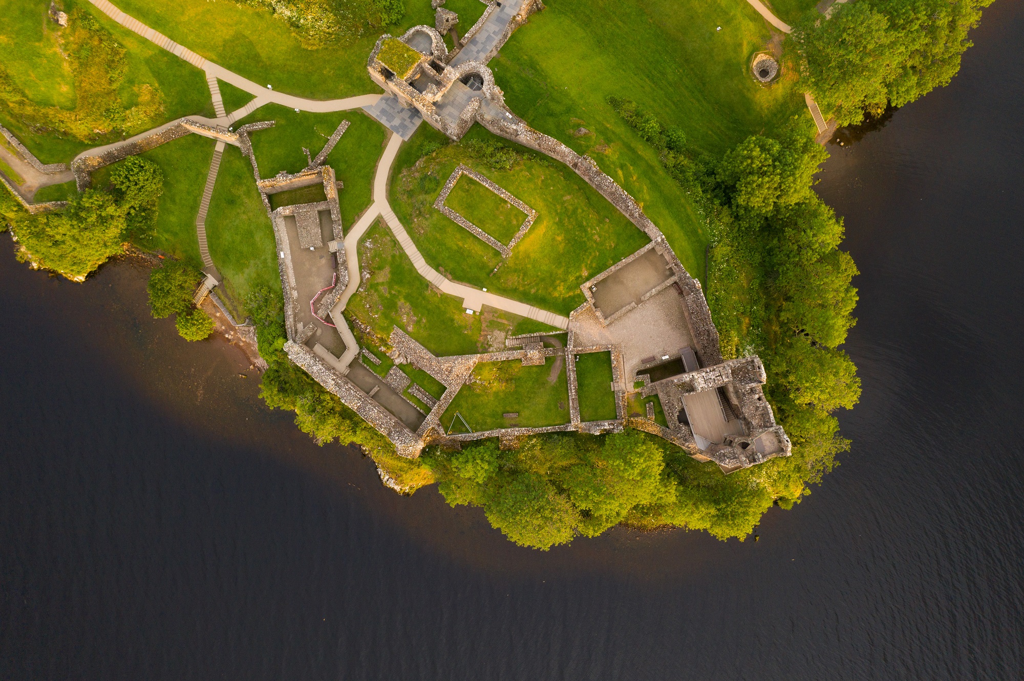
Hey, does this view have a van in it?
No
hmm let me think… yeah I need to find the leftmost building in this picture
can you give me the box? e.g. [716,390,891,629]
[256,165,351,344]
